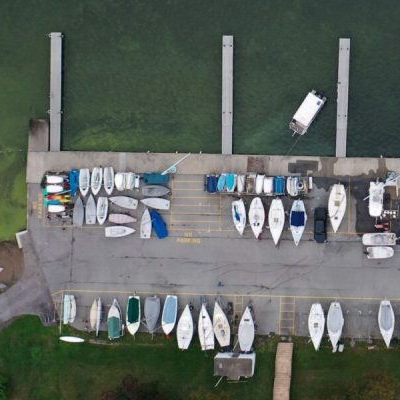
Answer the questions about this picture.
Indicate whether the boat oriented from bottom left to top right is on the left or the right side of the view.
right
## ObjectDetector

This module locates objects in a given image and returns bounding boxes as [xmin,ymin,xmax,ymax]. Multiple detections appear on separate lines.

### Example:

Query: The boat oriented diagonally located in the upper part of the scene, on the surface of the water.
[290,89,328,143]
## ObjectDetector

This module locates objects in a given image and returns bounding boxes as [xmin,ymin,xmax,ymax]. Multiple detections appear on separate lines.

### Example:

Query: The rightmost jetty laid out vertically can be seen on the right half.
[336,38,350,156]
